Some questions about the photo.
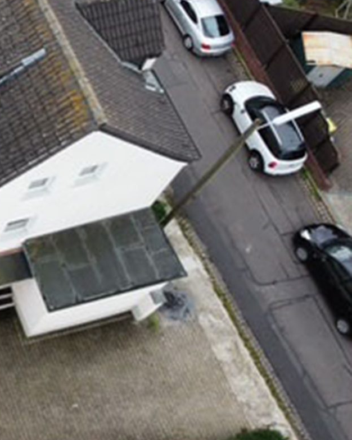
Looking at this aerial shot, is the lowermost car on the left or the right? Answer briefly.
right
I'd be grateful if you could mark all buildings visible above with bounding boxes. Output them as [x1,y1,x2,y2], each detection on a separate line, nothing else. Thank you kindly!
[0,0,201,256]
[295,32,352,92]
